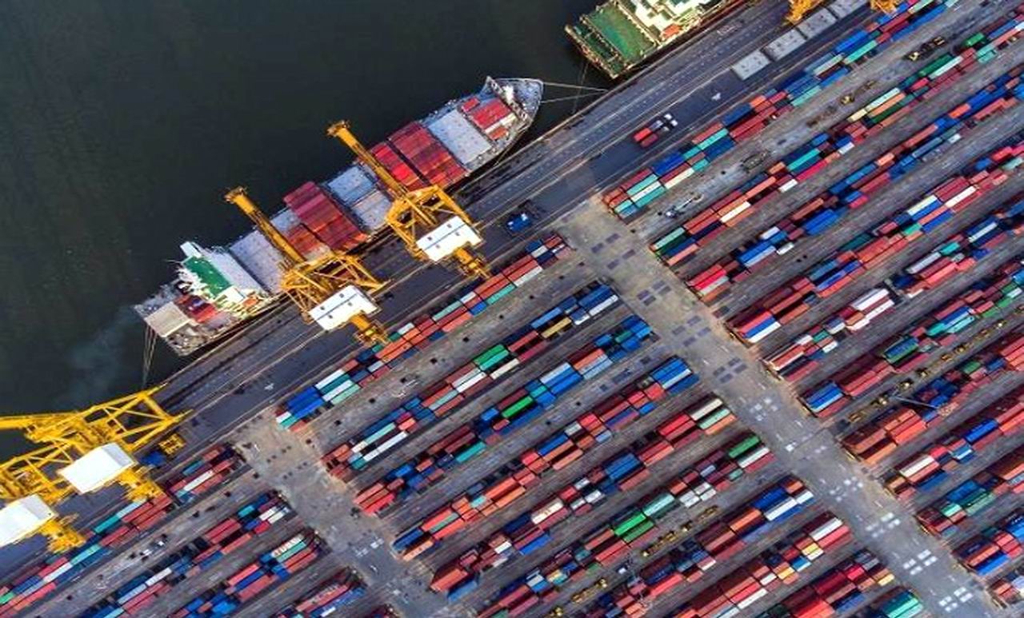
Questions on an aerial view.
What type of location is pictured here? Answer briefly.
port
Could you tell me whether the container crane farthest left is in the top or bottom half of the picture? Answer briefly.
bottom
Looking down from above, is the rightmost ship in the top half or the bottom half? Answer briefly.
top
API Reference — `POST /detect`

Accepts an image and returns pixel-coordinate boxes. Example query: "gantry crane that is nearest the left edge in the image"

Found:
[0,445,91,564]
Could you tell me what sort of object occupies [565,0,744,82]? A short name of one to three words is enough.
ship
